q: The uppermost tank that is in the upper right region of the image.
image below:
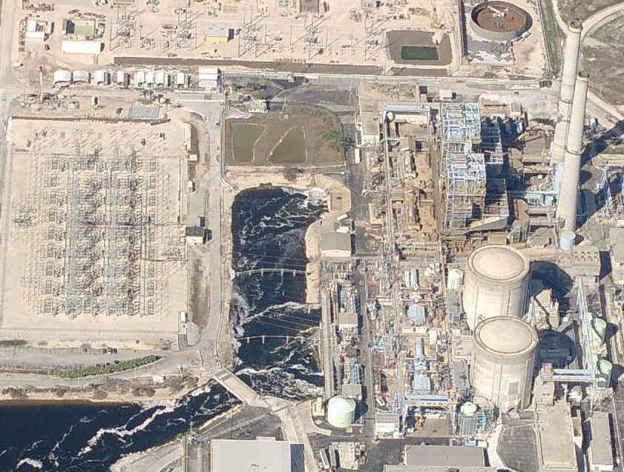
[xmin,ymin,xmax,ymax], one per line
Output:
[469,2,532,47]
